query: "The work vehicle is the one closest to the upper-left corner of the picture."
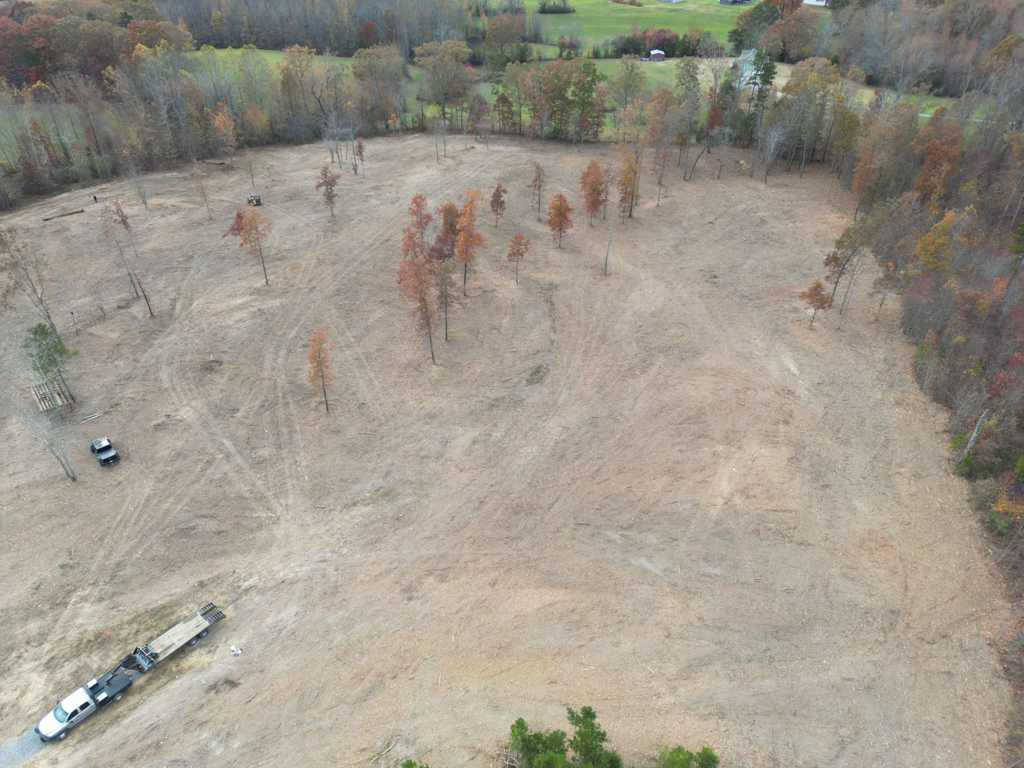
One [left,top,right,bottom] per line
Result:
[243,192,260,205]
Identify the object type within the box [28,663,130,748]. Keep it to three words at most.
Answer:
truck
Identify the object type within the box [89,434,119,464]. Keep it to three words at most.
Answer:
truck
